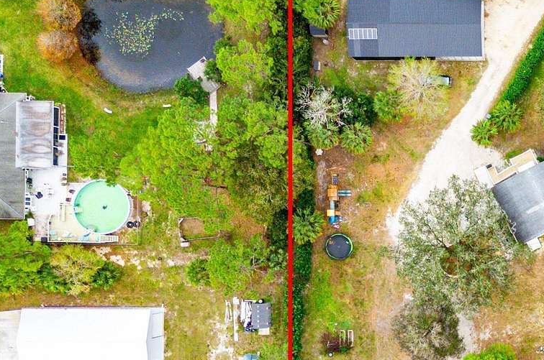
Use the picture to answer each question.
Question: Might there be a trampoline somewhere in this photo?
Yes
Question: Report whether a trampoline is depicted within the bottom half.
Yes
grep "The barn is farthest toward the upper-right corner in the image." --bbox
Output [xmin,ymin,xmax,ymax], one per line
[346,0,485,63]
